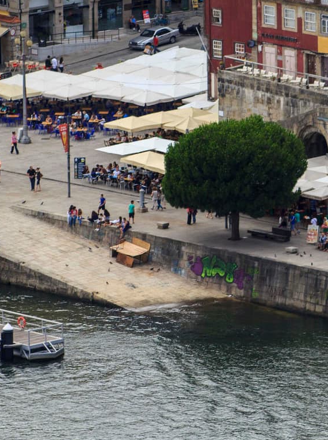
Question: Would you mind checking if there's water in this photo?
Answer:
Yes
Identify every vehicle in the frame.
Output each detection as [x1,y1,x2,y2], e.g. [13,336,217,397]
[180,21,203,37]
[128,29,181,50]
